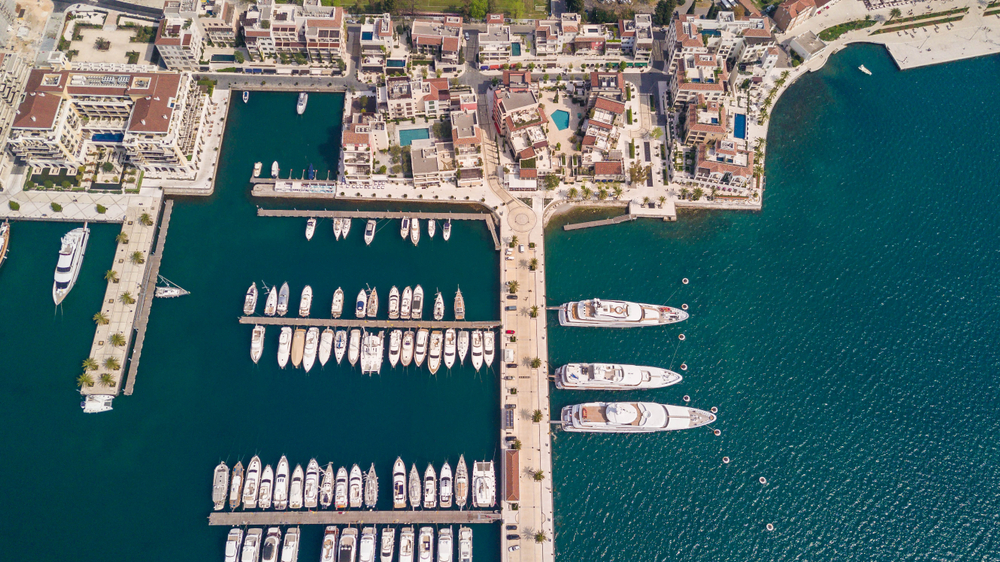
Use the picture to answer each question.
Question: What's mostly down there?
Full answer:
The largest share of the image is taken up by water.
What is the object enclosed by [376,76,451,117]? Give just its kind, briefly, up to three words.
building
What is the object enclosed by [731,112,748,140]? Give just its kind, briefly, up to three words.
swimming pool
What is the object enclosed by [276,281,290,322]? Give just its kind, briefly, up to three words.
boat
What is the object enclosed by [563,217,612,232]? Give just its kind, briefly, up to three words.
pier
